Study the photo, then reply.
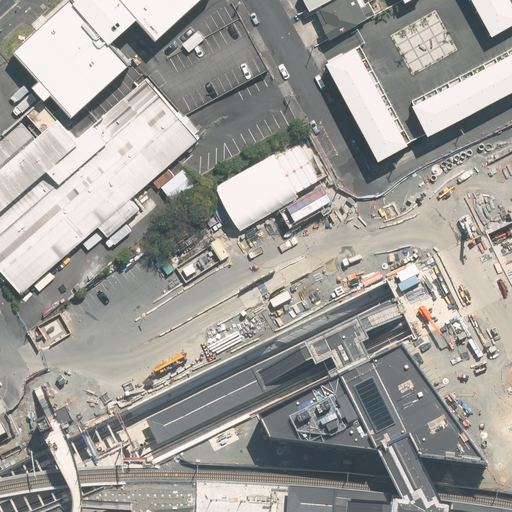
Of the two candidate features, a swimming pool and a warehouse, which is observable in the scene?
warehouse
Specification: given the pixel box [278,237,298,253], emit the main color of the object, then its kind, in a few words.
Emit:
white vehicle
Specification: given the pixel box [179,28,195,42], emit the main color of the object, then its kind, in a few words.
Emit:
gray car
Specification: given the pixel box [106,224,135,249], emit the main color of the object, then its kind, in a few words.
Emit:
white truck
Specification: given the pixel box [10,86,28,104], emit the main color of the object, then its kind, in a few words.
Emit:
white vehicle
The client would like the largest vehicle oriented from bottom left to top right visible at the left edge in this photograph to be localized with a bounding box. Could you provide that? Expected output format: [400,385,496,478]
[11,92,39,116]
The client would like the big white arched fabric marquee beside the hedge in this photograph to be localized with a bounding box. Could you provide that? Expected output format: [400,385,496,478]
[218,156,298,231]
